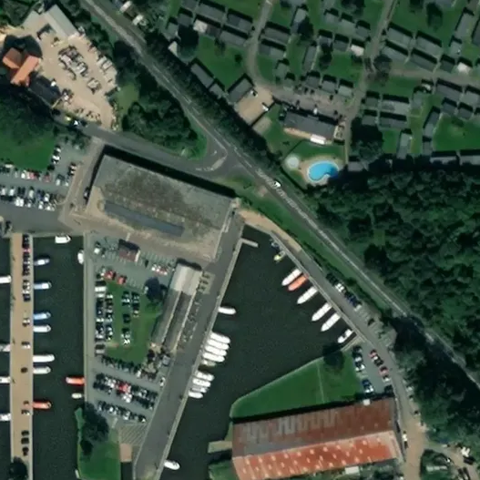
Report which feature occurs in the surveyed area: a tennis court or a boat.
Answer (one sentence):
It is a boat that can be seen here.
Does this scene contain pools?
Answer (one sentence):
Yes, I can see a pool in this picture.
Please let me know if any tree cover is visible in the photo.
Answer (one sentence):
Yes, some tree cover is visible.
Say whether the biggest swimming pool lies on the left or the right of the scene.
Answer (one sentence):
It is on the right.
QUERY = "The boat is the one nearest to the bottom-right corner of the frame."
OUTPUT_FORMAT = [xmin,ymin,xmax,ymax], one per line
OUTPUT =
[339,328,354,342]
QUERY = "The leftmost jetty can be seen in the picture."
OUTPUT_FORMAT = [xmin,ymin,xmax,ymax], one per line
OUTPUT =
[10,236,33,480]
